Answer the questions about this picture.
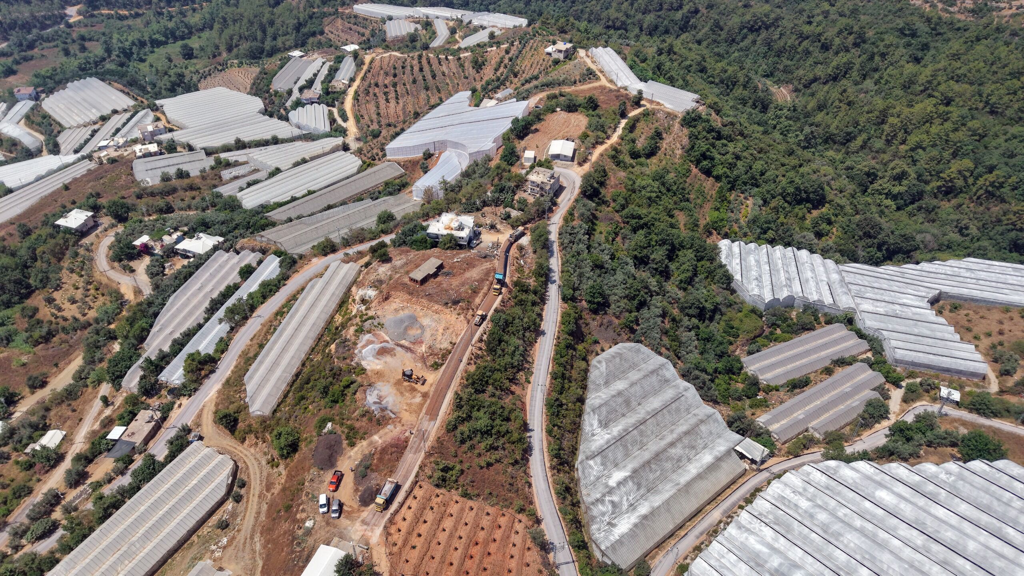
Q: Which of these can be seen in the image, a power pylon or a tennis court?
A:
power pylon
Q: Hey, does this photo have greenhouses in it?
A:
Yes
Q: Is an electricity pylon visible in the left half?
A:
No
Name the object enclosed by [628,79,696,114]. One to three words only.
greenhouse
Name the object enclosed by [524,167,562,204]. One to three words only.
house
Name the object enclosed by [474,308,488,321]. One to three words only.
vehicle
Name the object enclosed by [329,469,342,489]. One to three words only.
vehicle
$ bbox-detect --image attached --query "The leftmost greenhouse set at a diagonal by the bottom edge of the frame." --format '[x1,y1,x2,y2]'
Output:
[43,440,236,576]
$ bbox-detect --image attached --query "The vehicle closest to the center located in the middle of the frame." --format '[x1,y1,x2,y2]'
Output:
[493,271,505,294]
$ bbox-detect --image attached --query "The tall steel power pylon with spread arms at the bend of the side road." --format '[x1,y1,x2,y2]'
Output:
[932,370,969,416]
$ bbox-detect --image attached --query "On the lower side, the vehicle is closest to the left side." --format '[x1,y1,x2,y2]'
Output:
[187,426,202,443]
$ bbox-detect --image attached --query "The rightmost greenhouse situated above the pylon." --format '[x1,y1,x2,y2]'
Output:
[839,256,1024,378]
